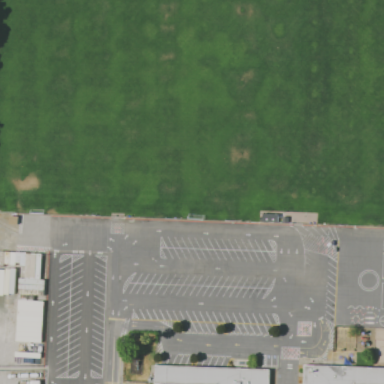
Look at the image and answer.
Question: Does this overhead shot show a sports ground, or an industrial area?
sports ground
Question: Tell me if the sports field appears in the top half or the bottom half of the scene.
top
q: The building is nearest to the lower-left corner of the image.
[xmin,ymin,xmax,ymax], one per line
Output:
[16,300,44,342]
